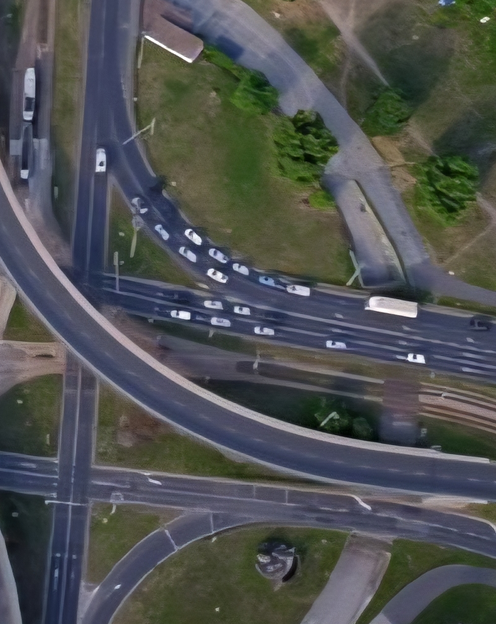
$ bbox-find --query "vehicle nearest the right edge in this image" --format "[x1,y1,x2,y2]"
[468,315,493,332]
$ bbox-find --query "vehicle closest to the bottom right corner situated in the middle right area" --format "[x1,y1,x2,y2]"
[405,352,428,367]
